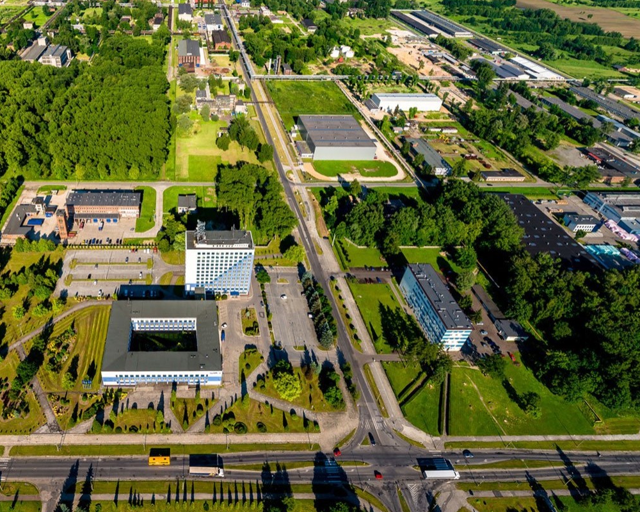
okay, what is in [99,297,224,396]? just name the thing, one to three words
building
